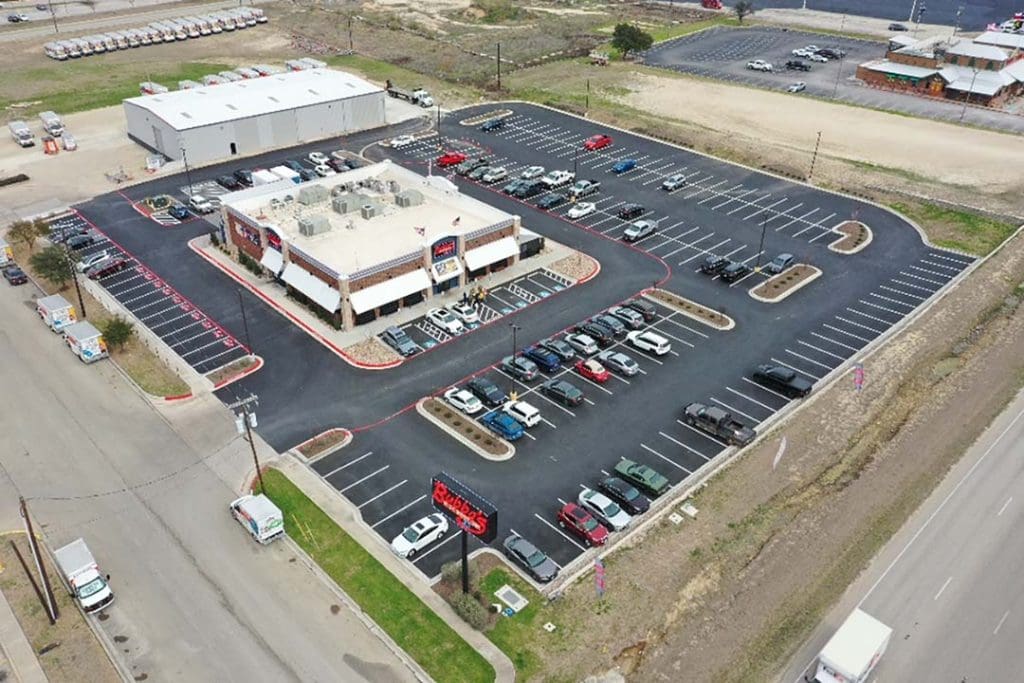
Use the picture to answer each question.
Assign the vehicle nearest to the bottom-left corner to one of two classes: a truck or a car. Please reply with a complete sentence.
I'd say the vehicle nearest to the bottom-left corner is a truck.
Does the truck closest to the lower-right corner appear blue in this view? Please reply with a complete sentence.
No, the color of the truck closest to the lower-right corner is white.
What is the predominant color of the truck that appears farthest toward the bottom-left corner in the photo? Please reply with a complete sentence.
The truck that appears farthest toward the bottom-left corner looks white in the image.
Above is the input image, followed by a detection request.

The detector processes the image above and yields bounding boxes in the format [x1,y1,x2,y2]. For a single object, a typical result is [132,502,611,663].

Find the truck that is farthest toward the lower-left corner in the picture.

[55,531,123,615]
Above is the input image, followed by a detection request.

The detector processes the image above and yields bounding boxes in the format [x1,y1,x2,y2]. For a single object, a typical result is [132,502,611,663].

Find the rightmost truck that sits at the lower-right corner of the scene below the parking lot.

[810,606,897,683]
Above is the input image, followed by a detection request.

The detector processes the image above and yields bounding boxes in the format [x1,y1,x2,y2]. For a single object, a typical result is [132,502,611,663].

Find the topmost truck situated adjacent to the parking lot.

[386,76,426,100]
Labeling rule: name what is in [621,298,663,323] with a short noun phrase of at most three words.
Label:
car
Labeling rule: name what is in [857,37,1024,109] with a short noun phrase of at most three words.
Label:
building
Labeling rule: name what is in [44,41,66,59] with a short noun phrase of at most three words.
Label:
vehicle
